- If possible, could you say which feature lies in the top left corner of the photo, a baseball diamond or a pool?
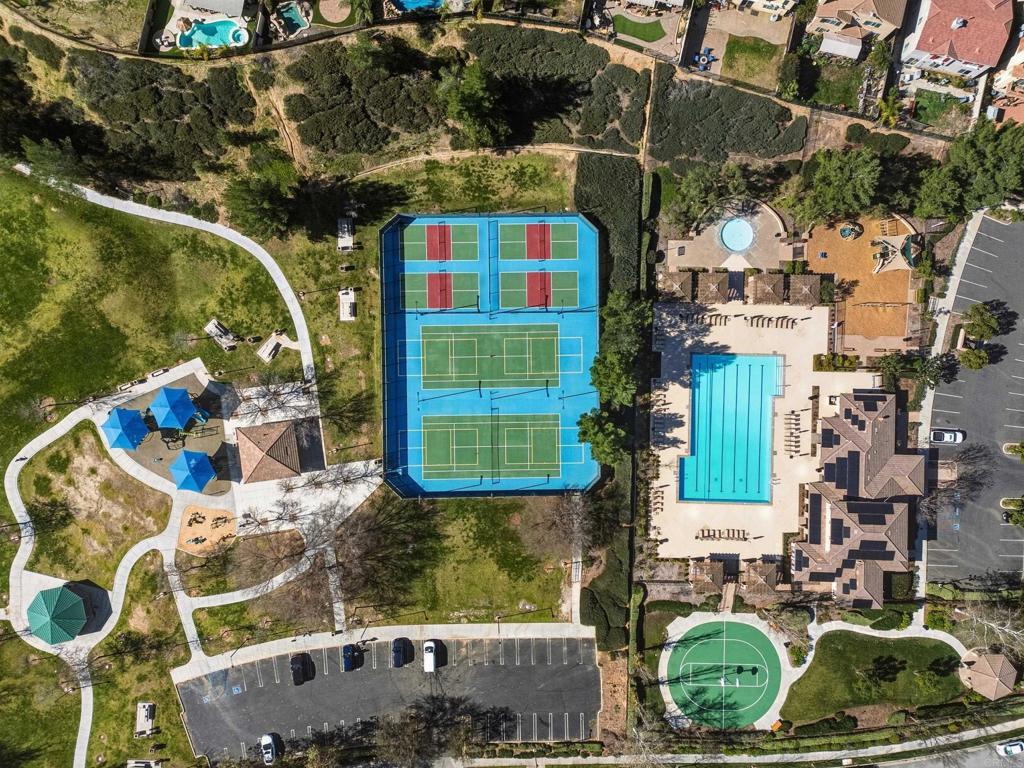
pool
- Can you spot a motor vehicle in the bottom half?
Yes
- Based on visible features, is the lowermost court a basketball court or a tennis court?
basketball court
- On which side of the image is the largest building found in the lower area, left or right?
right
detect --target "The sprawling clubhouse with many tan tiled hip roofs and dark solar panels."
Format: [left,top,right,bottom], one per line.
[791,393,925,610]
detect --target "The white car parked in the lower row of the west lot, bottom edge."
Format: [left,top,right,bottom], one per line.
[258,736,275,767]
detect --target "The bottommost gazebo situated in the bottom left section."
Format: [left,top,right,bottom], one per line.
[27,584,93,644]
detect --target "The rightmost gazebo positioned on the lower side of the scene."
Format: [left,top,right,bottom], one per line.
[961,651,1016,702]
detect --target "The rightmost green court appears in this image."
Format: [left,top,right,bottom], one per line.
[667,619,780,732]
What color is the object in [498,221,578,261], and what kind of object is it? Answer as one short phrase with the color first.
green sports court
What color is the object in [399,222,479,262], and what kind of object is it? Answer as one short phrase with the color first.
green sports court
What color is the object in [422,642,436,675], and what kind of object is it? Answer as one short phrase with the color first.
white vehicle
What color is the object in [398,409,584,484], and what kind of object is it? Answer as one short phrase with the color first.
green tennis court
